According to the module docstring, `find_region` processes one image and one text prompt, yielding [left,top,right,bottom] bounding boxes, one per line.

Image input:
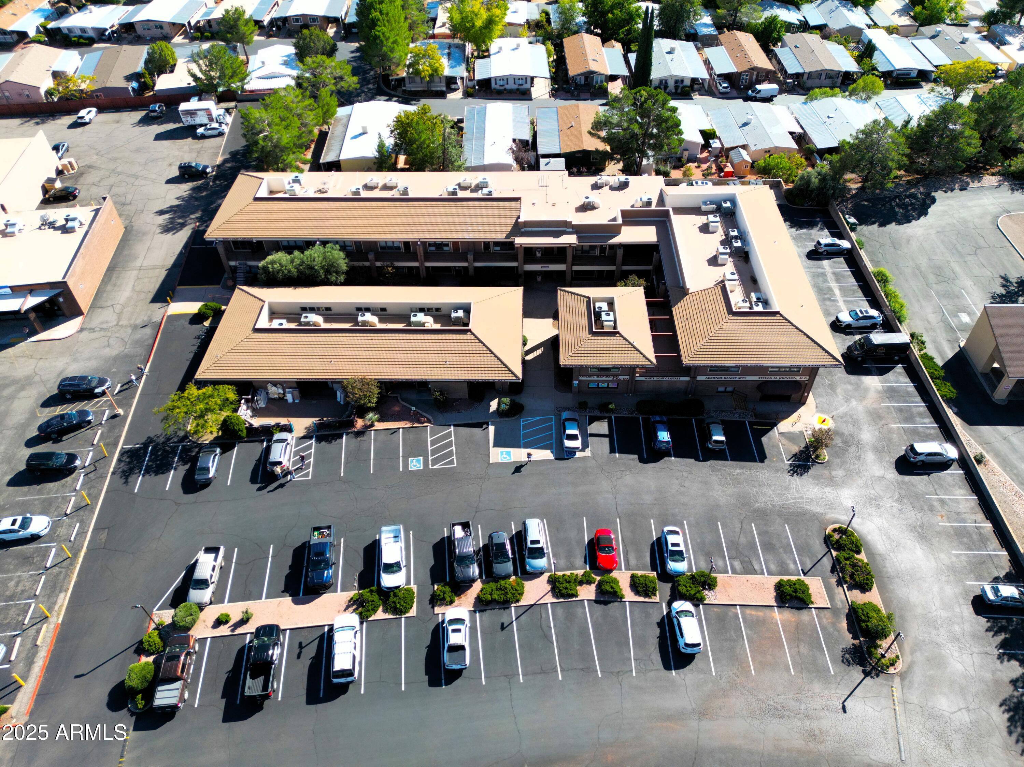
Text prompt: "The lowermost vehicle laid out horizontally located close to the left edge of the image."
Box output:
[0,514,50,543]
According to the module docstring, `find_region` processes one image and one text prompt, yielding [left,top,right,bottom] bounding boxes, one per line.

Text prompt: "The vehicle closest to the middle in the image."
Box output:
[560,413,582,452]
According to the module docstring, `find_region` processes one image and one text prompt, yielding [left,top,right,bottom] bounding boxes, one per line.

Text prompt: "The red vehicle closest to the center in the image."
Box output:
[594,527,619,571]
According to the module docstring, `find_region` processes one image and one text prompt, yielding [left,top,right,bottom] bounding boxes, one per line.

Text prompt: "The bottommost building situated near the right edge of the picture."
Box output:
[962,305,1024,404]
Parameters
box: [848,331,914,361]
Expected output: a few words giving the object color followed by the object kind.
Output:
black van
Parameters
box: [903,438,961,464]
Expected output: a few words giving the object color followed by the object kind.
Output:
white car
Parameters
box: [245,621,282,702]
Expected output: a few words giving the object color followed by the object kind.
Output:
black truck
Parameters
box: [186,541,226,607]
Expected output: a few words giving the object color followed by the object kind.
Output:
white truck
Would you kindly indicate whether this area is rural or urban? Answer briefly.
urban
